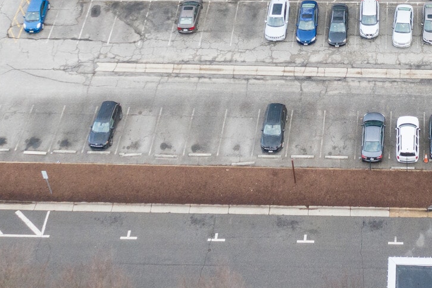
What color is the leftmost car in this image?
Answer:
blue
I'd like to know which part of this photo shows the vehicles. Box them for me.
[390,4,415,48]
[295,0,319,42]
[325,2,350,46]
[258,98,289,155]
[175,0,204,36]
[420,2,432,46]
[395,113,421,165]
[426,109,432,162]
[87,95,124,152]
[357,0,381,40]
[361,112,387,164]
[263,0,290,42]
[20,0,52,35]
